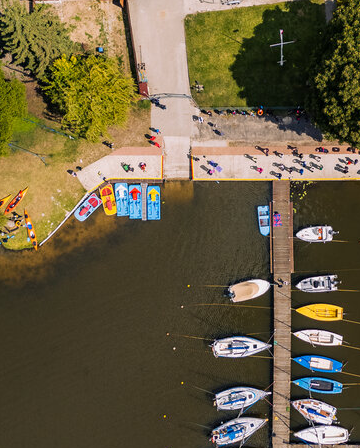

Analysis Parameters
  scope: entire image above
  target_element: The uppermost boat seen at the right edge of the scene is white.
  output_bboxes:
[291,223,347,244]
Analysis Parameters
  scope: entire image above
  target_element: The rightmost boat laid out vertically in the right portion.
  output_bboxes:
[258,206,273,237]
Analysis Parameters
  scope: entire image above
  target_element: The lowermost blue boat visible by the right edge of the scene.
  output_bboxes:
[292,377,357,394]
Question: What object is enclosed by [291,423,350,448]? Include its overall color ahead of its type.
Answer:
white boat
